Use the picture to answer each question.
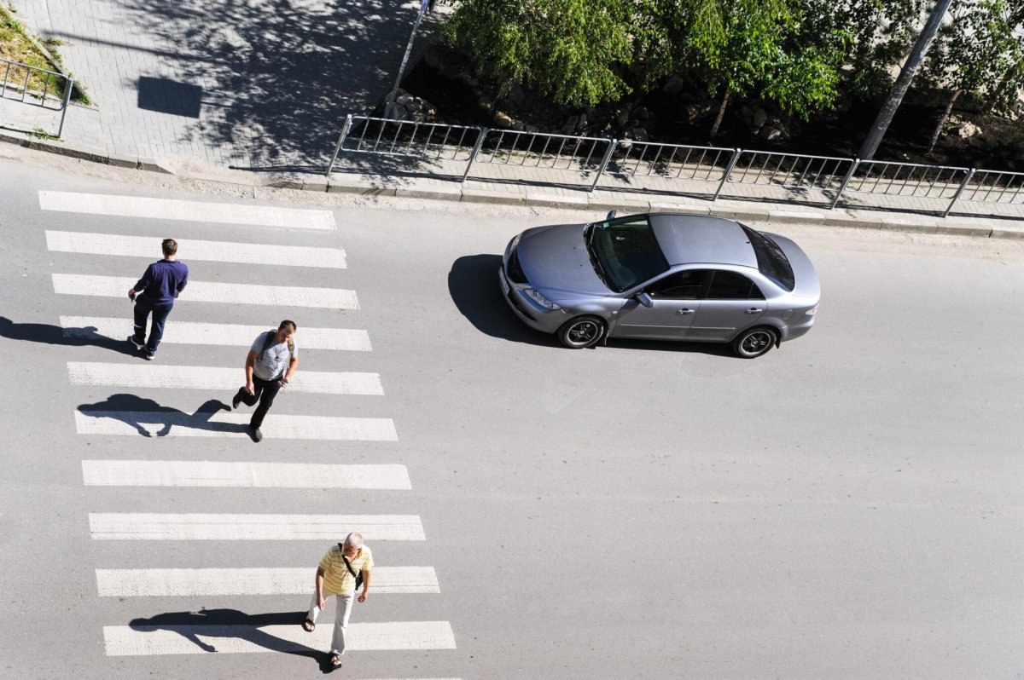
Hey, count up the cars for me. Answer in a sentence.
Altogether the scene contains 1 car.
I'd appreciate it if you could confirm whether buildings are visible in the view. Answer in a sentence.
No, there isn't any building down there.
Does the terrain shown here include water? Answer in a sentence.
No, there's no water in this view.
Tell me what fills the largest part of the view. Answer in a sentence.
Most of the picture is covered by paved ground.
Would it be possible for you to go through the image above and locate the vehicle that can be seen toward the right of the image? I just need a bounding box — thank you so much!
[493,205,822,359]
